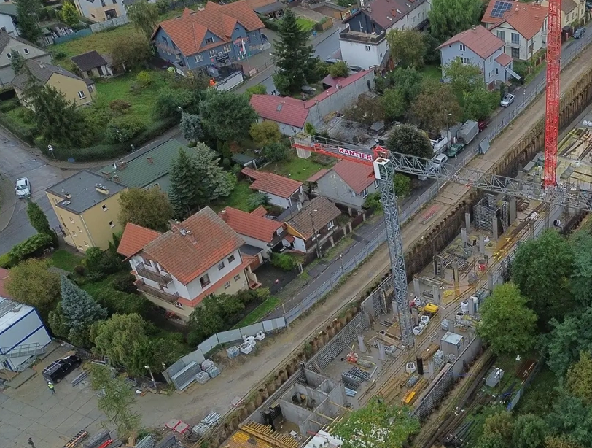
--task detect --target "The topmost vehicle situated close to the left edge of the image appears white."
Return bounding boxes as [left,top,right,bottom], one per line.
[15,180,31,196]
